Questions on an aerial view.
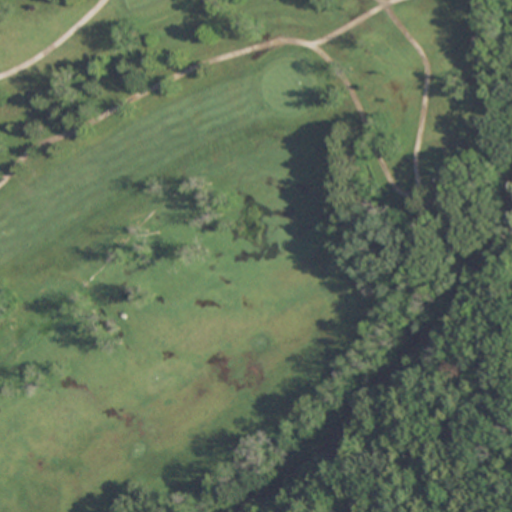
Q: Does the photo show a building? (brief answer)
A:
No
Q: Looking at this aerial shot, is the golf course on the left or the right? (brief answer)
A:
left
